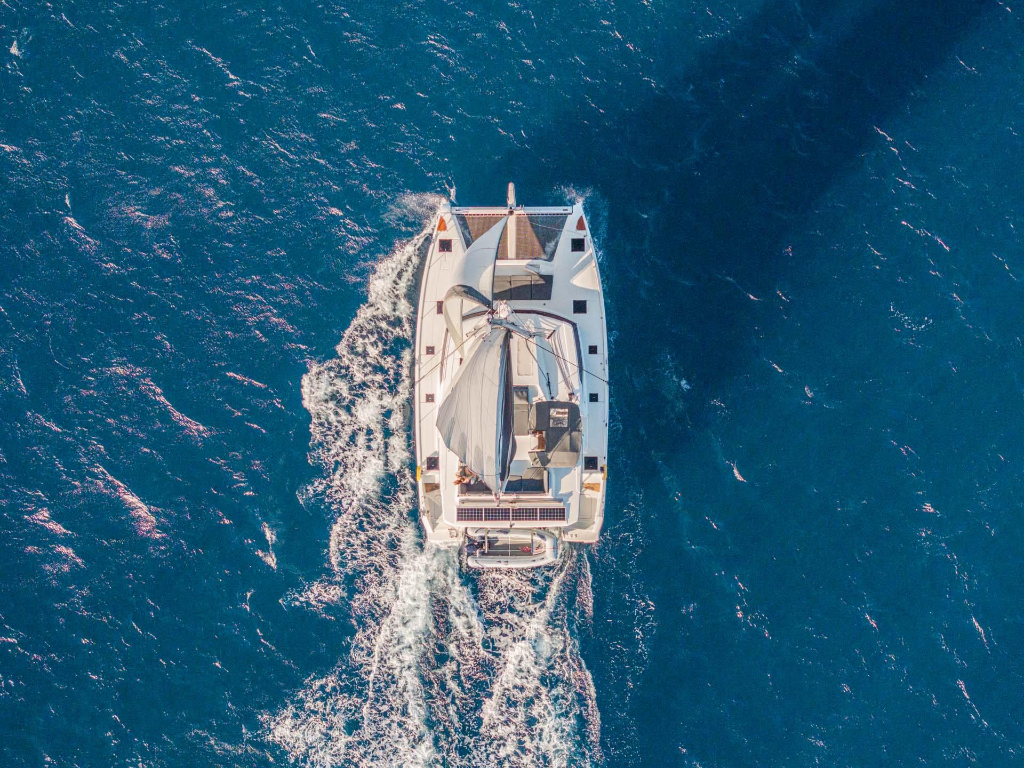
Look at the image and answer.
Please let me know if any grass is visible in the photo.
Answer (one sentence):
No, the scene doesn't show any grass.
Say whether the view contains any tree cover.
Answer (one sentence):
No, there is no tree cover in the image.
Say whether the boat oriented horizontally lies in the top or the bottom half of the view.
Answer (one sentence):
The boat oriented horizontally is in the bottom half of the image.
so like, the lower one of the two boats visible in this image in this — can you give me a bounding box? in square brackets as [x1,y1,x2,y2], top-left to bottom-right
[465,526,557,568]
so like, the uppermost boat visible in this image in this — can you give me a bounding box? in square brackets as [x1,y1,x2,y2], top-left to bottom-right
[415,183,609,542]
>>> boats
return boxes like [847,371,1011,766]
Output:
[465,526,557,568]
[415,183,609,542]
